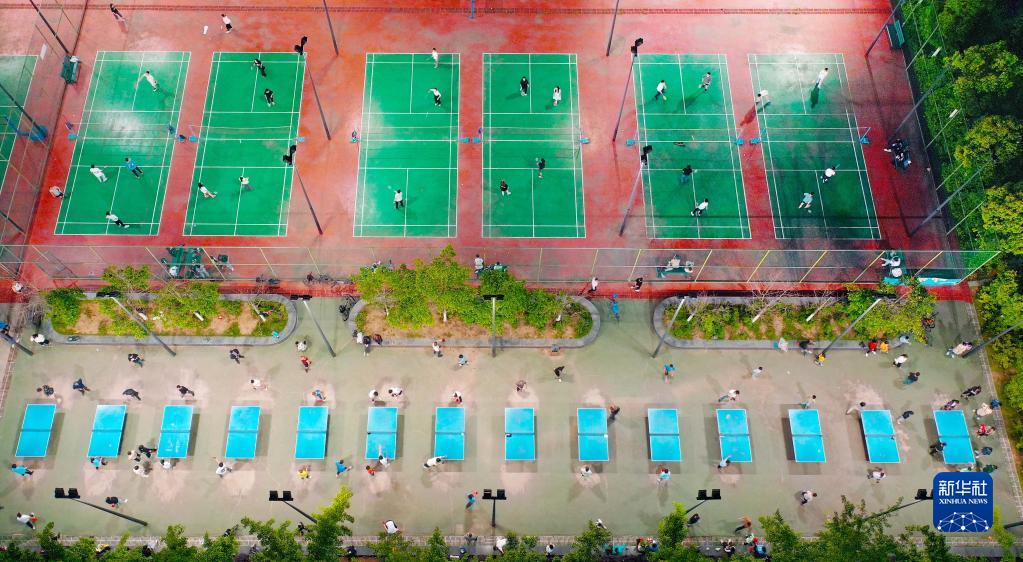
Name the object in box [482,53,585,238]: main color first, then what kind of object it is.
green sports court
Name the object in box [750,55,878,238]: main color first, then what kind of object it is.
green sports court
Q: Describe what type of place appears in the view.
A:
sports ground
